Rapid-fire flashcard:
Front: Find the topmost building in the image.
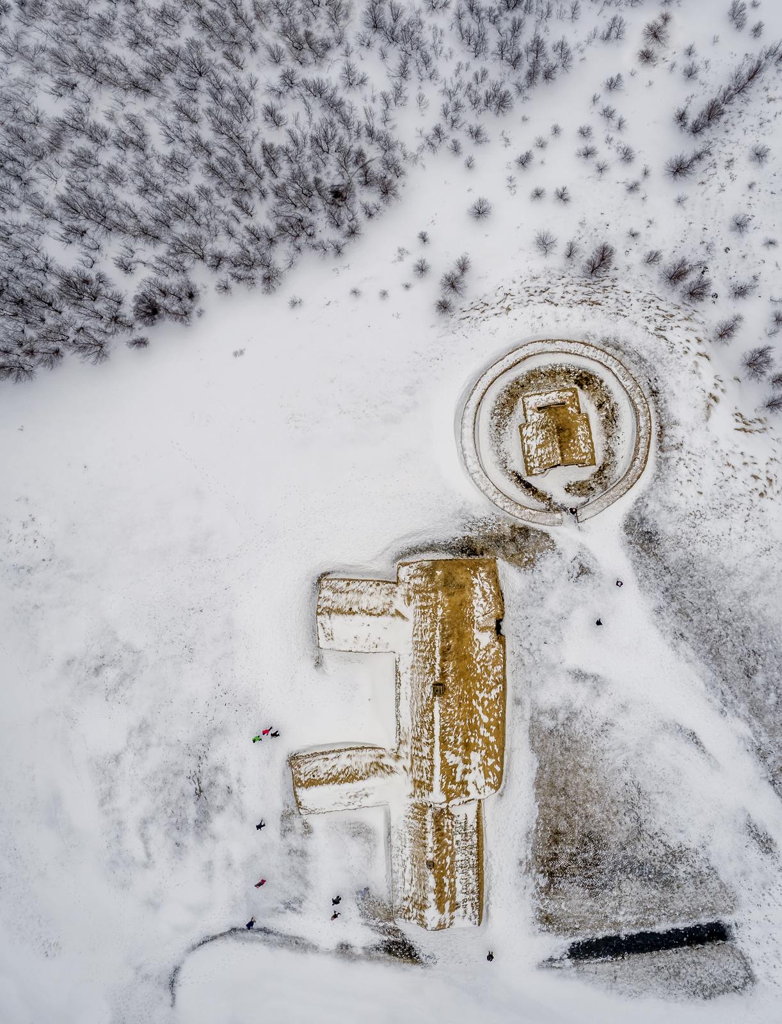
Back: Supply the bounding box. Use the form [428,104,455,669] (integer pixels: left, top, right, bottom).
[519,388,596,476]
